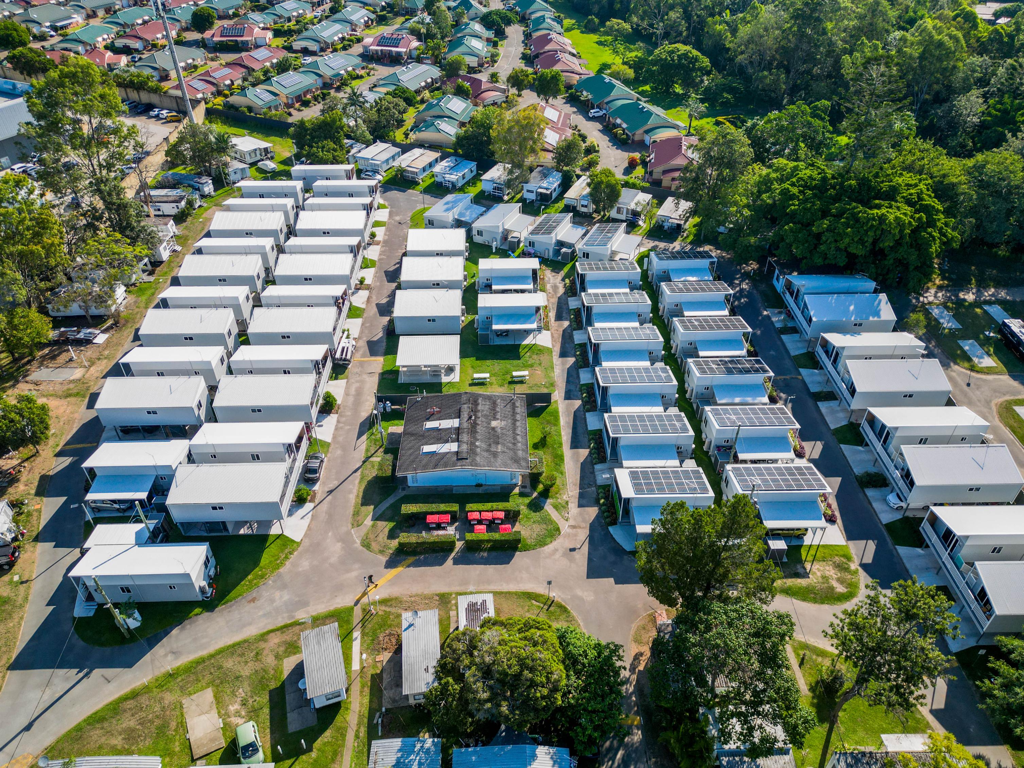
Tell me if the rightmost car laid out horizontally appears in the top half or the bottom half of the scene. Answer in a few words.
bottom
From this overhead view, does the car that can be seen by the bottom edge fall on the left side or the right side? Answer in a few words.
left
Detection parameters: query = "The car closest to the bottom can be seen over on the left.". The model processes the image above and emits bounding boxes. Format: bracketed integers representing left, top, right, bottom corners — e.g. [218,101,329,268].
[234,714,263,766]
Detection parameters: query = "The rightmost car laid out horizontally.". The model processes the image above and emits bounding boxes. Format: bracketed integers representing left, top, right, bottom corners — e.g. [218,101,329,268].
[877,493,926,515]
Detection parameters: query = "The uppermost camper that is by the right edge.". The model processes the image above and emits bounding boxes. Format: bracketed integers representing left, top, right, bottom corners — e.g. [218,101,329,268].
[1003,318,1024,357]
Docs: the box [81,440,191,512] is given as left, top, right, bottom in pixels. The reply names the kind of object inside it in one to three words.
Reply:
building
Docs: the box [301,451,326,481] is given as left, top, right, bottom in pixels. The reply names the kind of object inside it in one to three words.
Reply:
car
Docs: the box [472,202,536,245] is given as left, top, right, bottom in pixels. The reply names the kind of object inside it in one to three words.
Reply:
building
